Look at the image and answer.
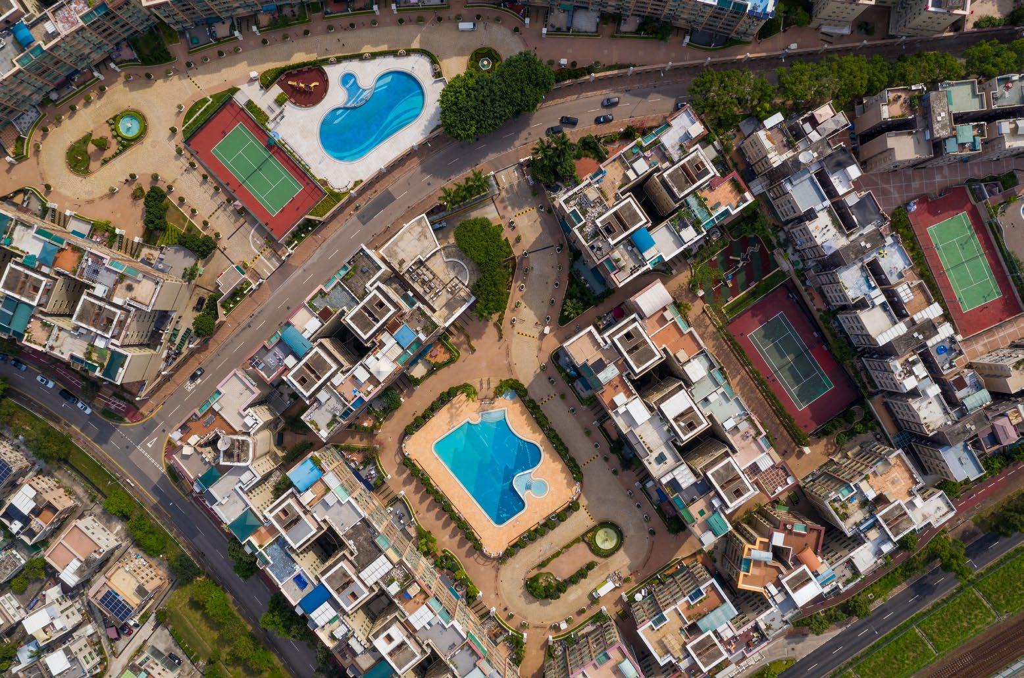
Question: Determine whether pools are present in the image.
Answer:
Yes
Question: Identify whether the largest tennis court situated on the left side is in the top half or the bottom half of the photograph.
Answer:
top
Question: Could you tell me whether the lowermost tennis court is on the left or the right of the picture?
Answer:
right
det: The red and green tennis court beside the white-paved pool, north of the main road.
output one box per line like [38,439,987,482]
[181,94,326,239]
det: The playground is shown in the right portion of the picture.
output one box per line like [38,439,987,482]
[696,234,780,310]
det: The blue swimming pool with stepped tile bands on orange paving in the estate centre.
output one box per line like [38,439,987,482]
[402,396,583,558]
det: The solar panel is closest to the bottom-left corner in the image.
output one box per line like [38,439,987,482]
[99,590,133,622]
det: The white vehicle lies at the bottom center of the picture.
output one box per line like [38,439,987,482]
[594,578,620,598]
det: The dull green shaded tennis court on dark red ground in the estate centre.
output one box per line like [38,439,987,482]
[728,279,865,435]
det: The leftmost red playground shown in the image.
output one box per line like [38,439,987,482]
[276,66,328,107]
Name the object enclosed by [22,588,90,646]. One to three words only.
house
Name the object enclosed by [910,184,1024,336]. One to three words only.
tennis court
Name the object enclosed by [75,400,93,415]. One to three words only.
car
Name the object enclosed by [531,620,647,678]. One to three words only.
building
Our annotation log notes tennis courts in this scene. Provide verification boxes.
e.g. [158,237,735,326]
[910,184,1024,336]
[728,279,865,435]
[181,94,326,239]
